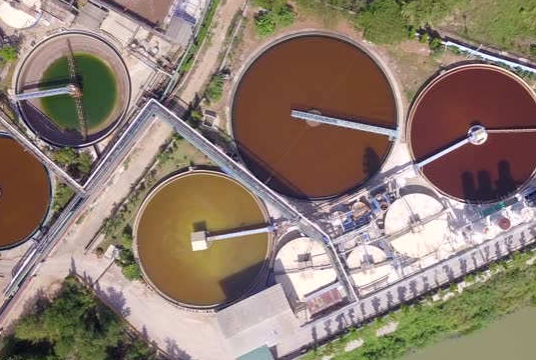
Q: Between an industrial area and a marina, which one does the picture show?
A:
industrial area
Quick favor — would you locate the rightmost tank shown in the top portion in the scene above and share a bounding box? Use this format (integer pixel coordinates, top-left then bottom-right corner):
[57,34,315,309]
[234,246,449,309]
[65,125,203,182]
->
[405,63,536,204]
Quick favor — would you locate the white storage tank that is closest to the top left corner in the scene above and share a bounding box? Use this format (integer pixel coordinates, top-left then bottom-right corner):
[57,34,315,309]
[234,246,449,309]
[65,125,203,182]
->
[0,0,48,33]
